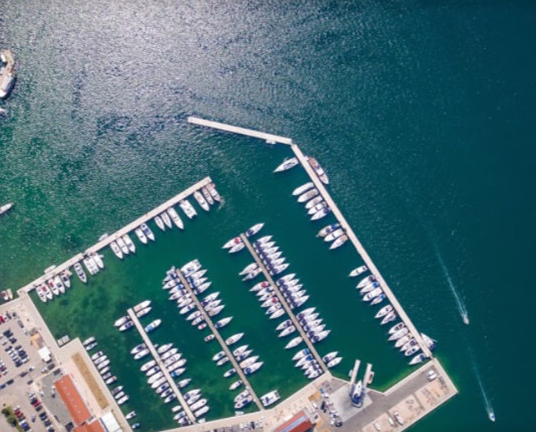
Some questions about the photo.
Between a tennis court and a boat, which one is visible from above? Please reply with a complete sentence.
Looking from above, you can make out a boat.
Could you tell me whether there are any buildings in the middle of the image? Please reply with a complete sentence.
No, looking in the middle of the image, there is no building.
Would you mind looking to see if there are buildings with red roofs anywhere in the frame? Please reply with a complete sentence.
Yes, looking at the shot, I can spot a building with a red roof.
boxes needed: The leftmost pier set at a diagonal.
[19,252,85,296]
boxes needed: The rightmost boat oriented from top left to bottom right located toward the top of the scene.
[306,154,329,183]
